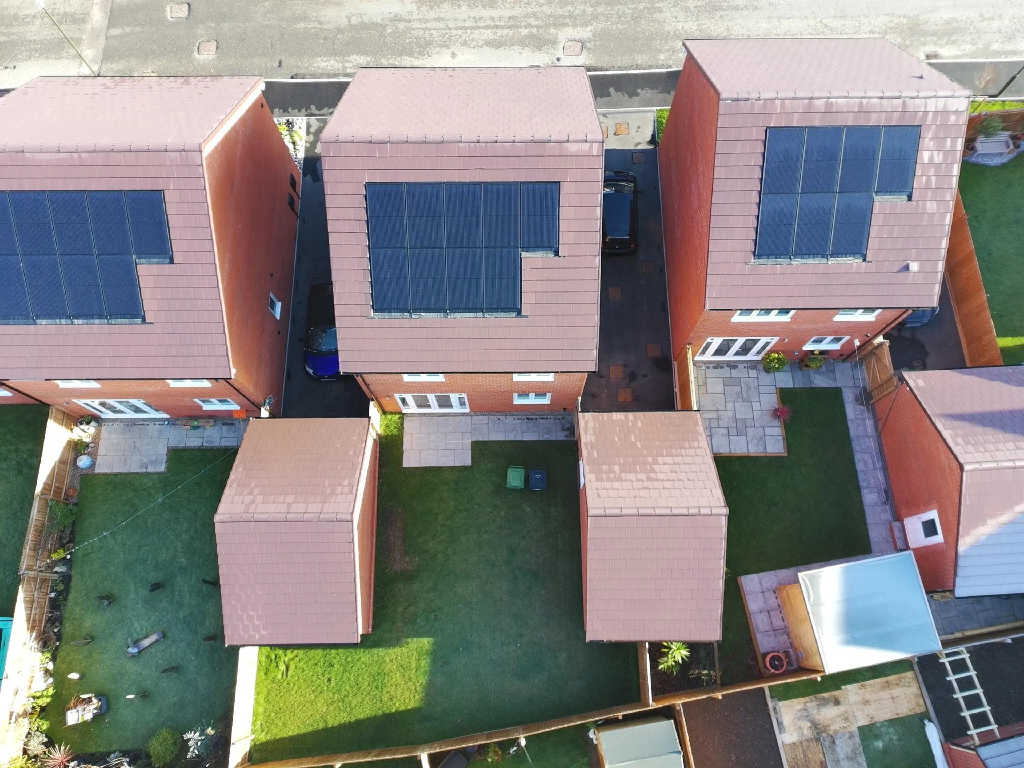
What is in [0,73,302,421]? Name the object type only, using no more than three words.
house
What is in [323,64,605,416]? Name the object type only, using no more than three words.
house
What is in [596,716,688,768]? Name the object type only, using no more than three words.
shed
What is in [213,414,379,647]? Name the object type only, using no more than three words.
building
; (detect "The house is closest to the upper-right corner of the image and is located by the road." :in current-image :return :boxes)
[657,36,970,363]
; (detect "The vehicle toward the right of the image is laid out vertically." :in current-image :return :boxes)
[602,163,644,261]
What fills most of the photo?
buildings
